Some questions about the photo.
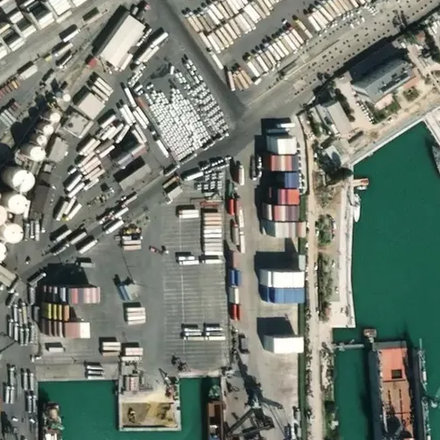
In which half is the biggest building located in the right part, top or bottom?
top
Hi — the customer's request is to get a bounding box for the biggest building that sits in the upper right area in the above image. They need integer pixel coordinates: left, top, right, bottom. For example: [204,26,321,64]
[344,59,413,101]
